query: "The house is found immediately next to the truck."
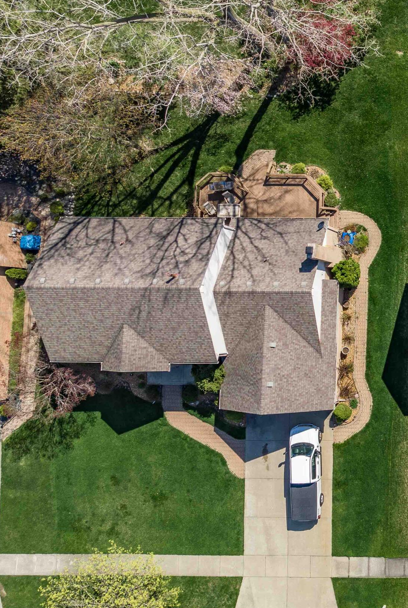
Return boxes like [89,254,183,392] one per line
[24,215,345,414]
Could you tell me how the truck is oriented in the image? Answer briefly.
vertically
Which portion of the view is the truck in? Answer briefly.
bottom right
